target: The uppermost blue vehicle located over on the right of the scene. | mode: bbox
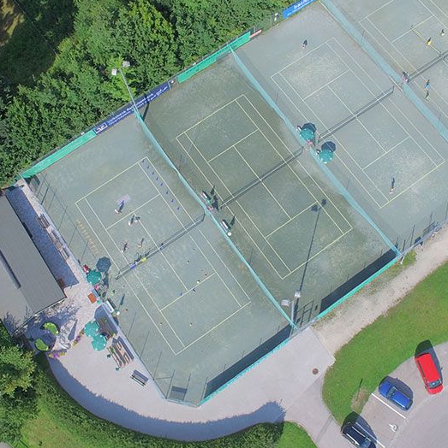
[377,379,414,412]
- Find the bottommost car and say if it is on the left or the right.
right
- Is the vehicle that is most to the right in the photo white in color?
No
